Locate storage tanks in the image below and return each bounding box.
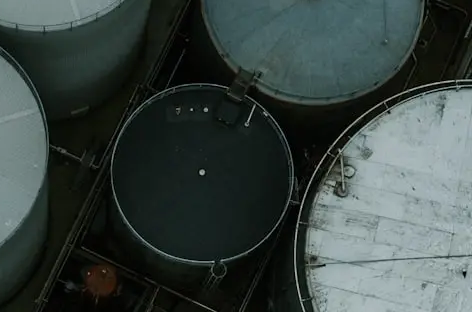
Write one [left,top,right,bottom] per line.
[187,0,425,144]
[281,80,472,312]
[102,82,297,293]
[0,44,49,307]
[0,0,149,121]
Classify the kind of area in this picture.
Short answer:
industrial area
